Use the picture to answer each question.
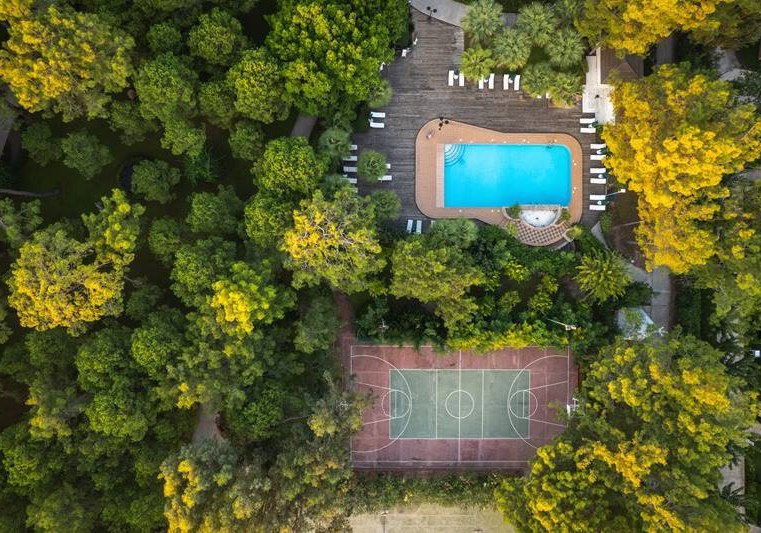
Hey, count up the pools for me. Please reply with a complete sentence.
Altogether the scene contains 1 pool.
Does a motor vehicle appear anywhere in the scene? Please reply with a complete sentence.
No, the frame has no motor vehicle in it.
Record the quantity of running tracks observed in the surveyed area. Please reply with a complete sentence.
There are no running tracks in the image.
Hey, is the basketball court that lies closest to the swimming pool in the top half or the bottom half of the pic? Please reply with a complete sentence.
You can find the basketball court that lies closest to the swimming pool in the bottom half.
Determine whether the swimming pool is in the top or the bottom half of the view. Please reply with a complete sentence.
You can find the swimming pool in the top half.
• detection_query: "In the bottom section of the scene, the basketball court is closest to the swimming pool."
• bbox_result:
[334,343,578,474]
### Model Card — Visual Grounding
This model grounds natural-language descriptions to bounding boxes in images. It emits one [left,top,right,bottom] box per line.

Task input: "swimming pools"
[415,117,583,228]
